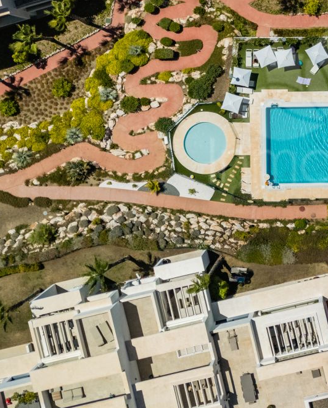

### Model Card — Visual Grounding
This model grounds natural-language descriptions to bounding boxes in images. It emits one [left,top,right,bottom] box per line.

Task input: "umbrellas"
[305,40,328,66]
[275,49,296,69]
[254,45,277,68]
[223,91,244,112]
[231,67,252,87]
